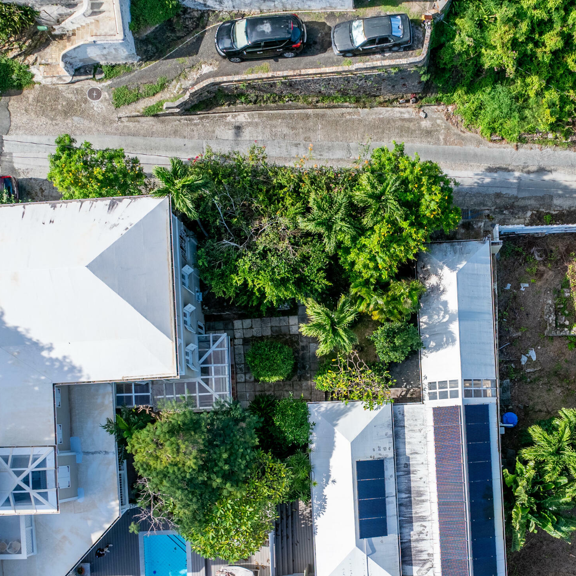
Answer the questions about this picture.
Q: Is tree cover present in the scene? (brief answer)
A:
Yes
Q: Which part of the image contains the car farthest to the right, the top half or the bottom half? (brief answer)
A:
top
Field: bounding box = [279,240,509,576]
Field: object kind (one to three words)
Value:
house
